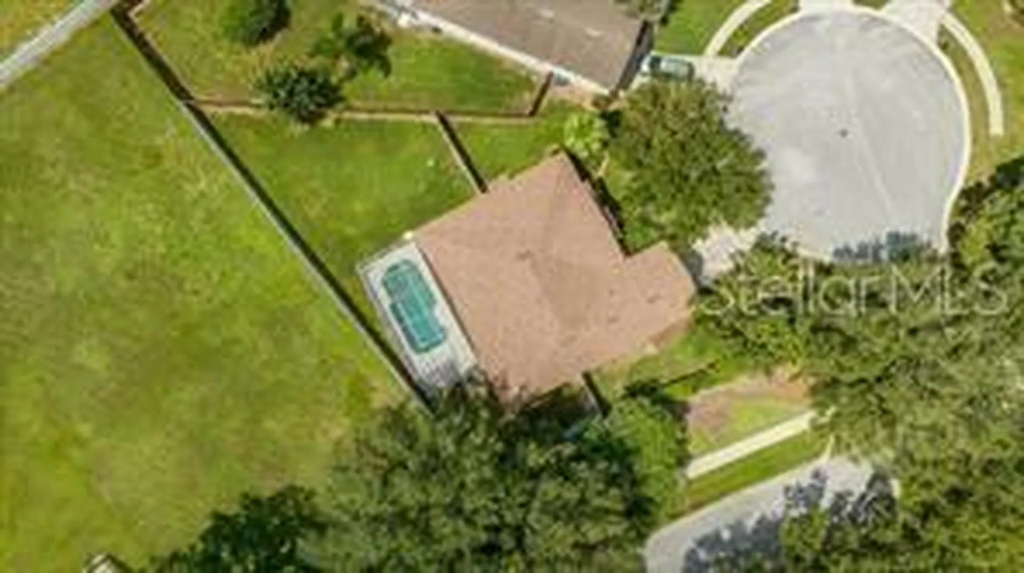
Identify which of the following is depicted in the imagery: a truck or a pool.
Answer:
pool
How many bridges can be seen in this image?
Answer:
none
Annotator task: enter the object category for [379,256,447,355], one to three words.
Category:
swimming pool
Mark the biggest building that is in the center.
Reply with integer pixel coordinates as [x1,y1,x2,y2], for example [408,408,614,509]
[412,151,698,406]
